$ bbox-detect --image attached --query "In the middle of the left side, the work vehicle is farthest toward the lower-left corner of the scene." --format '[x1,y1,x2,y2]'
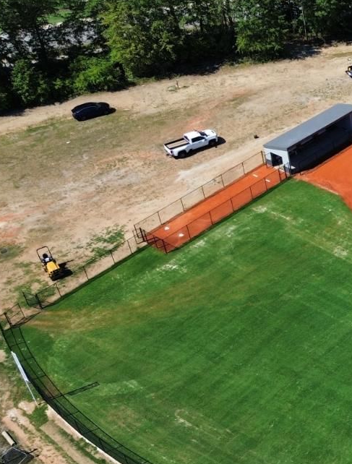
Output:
[32,244,65,282]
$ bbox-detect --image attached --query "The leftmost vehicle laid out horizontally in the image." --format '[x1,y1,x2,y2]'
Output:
[69,98,112,115]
